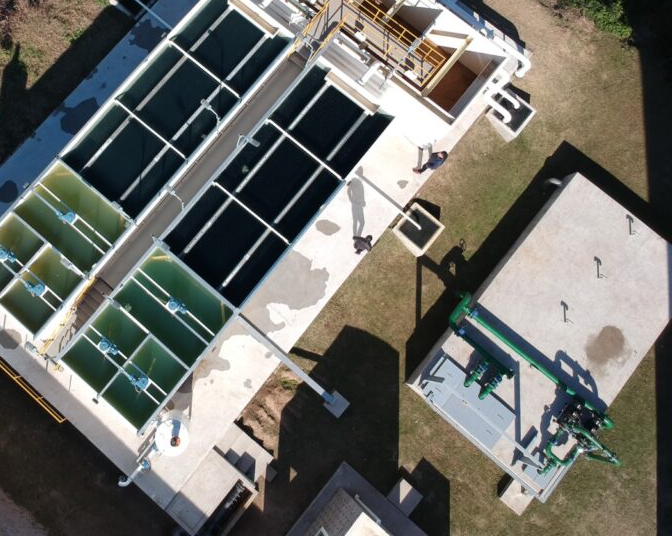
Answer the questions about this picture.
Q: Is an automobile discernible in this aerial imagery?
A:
No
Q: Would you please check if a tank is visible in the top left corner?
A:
No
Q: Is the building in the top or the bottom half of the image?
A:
bottom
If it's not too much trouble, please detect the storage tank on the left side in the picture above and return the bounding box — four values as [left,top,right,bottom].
[153,408,193,456]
